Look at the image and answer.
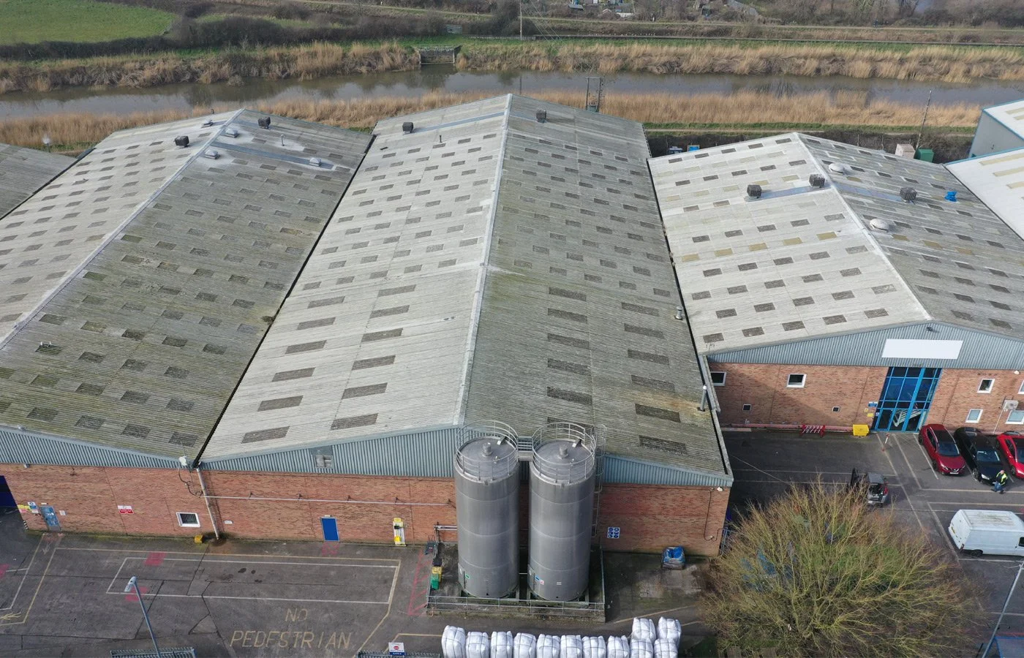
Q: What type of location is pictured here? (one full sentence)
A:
This looks like an industrial area.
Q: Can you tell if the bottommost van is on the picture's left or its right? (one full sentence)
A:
You can find the bottommost van on the right side of the picture.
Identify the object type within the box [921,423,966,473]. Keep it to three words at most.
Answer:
car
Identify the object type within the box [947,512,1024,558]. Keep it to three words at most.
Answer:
van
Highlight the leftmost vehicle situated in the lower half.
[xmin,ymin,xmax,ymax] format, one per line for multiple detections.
[840,468,896,507]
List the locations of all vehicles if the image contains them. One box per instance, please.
[840,468,896,507]
[921,423,966,473]
[996,428,1024,475]
[957,429,1007,479]
[947,512,1024,558]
